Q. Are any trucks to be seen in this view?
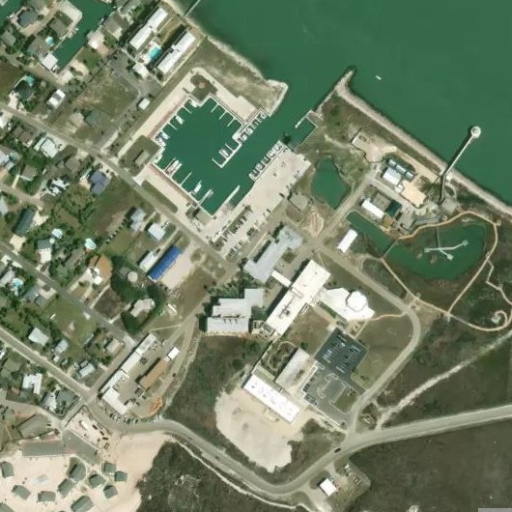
No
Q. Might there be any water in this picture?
Yes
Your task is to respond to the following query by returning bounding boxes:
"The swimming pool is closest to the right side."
[146,44,161,60]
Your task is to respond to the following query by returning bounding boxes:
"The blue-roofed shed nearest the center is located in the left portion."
[146,242,179,283]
